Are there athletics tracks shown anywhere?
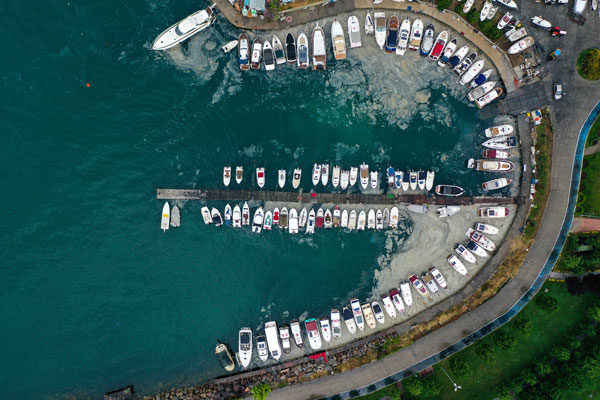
No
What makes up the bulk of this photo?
water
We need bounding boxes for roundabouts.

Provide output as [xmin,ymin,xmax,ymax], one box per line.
[575,46,600,81]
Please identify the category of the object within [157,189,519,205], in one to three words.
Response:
pier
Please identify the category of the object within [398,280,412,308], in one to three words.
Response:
boat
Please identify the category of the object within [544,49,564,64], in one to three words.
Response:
work vehicle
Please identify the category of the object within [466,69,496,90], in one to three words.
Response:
boat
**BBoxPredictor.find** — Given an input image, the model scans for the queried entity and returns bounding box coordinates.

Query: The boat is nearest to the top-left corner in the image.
[151,2,222,48]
